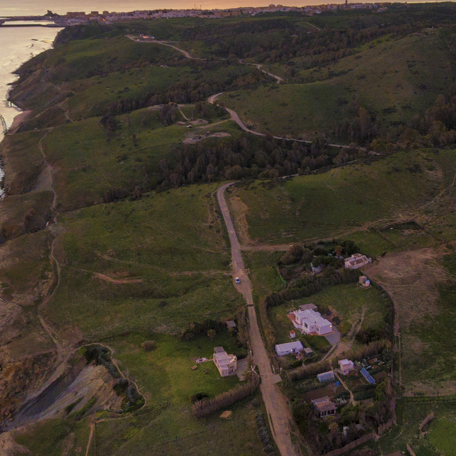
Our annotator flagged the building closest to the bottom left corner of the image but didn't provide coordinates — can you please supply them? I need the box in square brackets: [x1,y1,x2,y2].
[212,348,237,377]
